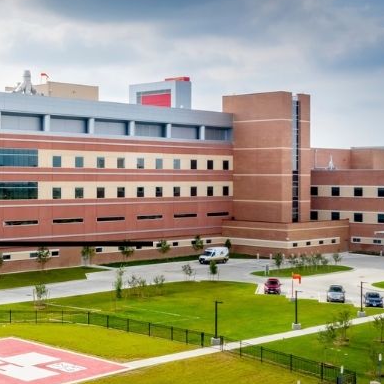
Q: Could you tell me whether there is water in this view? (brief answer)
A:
No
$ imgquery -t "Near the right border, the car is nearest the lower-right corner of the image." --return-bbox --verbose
[364,289,384,306]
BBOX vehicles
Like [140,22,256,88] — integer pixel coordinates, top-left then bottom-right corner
[327,283,347,301]
[196,245,231,263]
[265,277,284,292]
[364,289,384,306]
